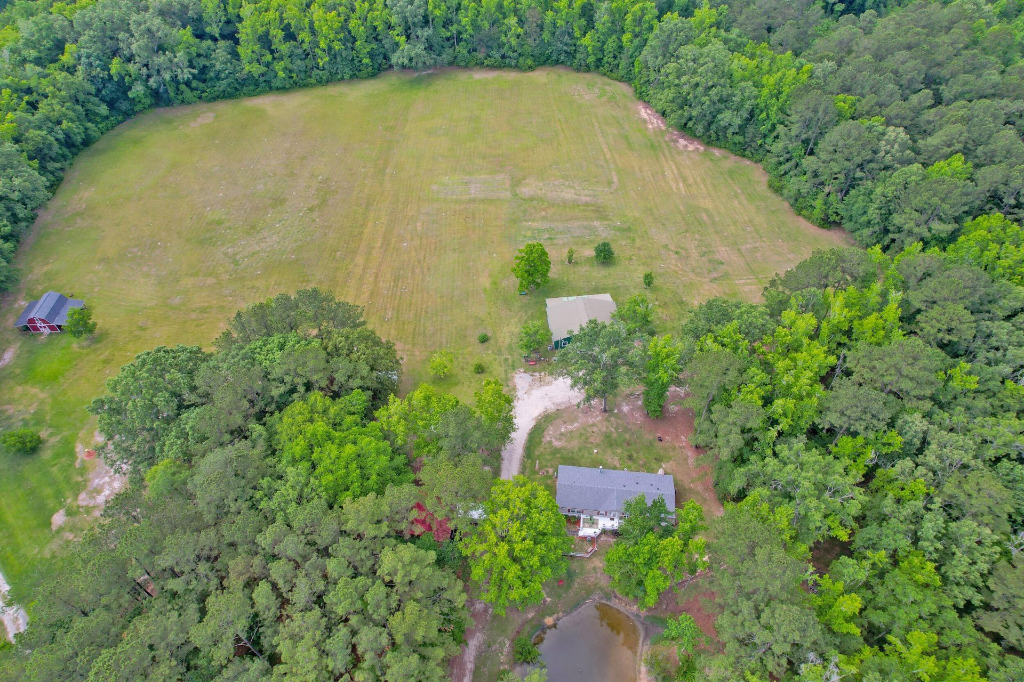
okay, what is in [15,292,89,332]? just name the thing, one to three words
barn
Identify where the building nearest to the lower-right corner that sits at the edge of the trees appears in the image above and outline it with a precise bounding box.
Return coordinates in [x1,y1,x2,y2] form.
[556,465,676,519]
